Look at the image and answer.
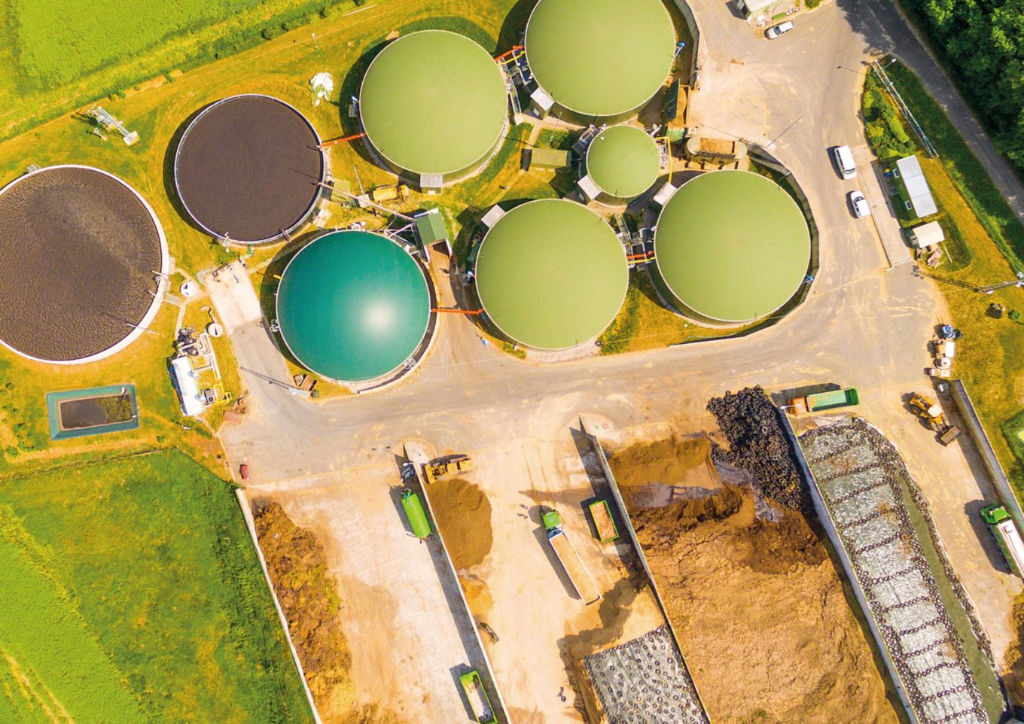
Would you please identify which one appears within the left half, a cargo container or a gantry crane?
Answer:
cargo container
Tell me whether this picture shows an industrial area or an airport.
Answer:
industrial area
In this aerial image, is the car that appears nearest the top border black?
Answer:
No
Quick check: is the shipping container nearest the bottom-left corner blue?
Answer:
No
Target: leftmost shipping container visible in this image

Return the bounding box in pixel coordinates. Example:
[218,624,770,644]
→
[172,357,210,415]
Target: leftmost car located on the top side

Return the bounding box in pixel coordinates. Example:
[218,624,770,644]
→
[764,18,797,41]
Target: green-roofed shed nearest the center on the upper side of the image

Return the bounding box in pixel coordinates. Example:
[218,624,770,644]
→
[417,212,448,252]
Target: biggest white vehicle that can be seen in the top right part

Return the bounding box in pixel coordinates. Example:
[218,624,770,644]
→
[835,143,857,180]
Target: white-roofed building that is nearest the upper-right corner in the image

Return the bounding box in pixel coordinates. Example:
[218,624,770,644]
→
[887,155,937,223]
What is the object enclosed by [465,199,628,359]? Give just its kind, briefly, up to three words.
storage tank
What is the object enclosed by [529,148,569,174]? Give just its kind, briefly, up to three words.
shed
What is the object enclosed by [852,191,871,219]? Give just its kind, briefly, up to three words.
car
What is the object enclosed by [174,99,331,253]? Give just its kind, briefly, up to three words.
storage tank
